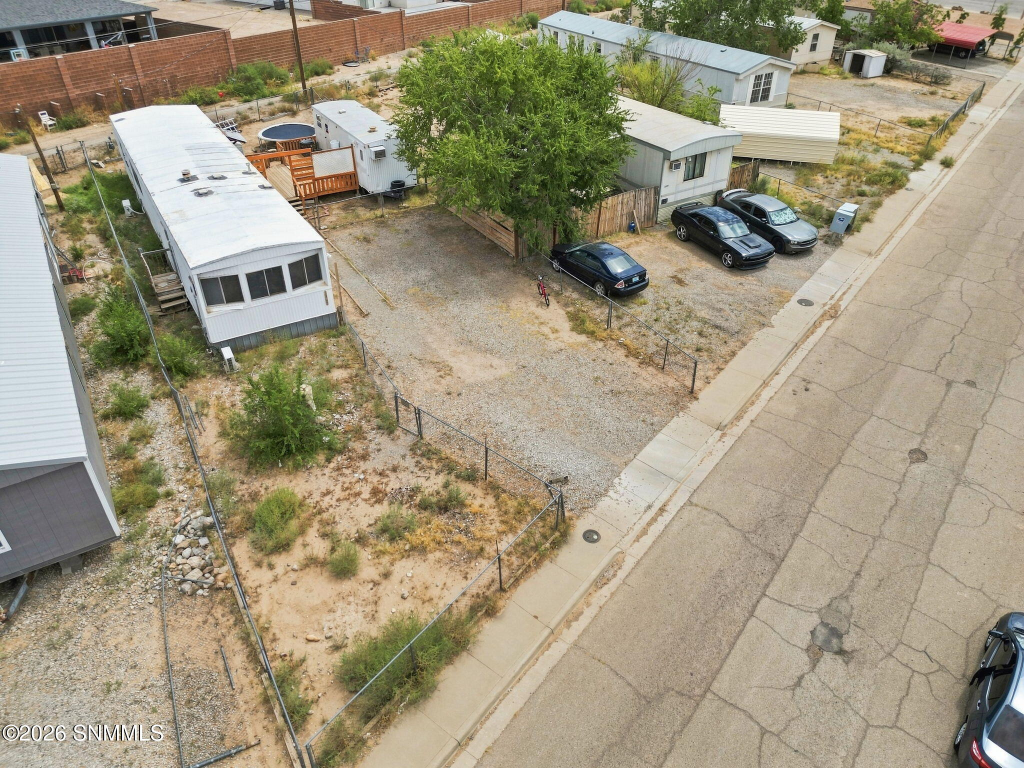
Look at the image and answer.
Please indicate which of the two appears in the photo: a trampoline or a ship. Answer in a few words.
trampoline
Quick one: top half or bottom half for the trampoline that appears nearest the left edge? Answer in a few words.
top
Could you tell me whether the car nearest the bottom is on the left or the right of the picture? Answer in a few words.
right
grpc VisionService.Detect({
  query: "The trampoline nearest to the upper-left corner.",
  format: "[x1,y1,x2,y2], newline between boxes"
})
[251,121,313,152]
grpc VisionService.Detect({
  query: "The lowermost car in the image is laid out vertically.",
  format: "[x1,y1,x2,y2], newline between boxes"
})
[951,602,1024,768]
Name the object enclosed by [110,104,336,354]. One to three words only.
house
